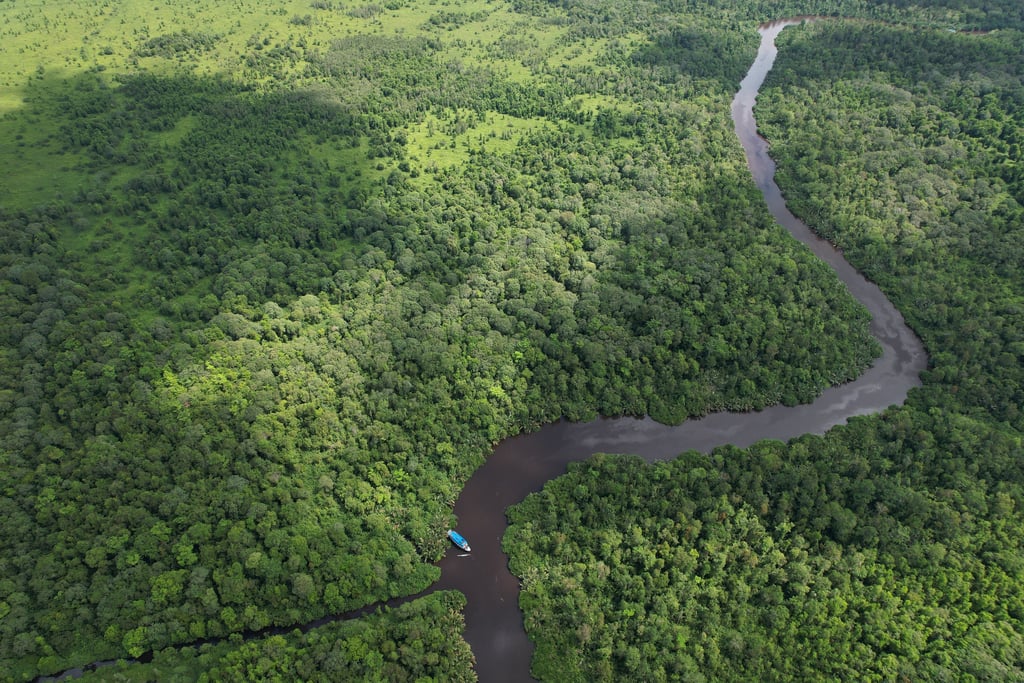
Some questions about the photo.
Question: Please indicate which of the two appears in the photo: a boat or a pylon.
boat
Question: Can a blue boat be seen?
Yes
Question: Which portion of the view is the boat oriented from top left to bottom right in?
bottom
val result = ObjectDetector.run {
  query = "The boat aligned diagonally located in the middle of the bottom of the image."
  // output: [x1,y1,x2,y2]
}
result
[446,528,471,552]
